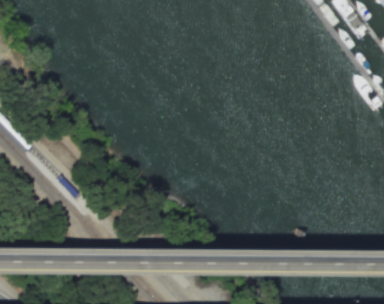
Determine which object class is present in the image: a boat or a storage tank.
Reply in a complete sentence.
I can see a boat in this picture.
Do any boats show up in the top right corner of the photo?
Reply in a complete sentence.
Yes, a boat is visible in the top right corner of the photo.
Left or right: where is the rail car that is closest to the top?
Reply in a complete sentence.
The rail car that is closest to the top sits on the left side.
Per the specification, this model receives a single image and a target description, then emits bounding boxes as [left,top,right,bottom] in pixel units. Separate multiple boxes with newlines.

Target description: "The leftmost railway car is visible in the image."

[0,114,33,151]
